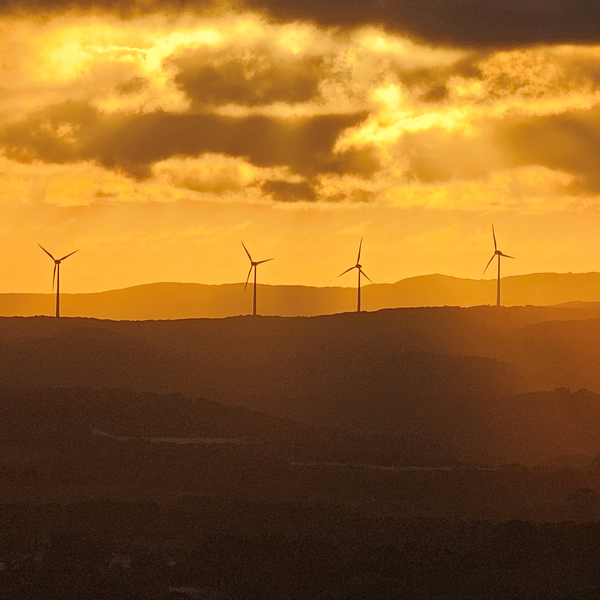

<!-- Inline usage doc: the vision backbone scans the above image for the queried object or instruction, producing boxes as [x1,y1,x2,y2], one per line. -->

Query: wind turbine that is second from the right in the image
[339,242,372,311]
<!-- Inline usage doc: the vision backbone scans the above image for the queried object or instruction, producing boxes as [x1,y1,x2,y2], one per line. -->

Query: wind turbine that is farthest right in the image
[483,225,516,305]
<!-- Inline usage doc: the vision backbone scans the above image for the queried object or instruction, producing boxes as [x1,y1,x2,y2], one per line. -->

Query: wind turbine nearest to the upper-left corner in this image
[38,243,78,318]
